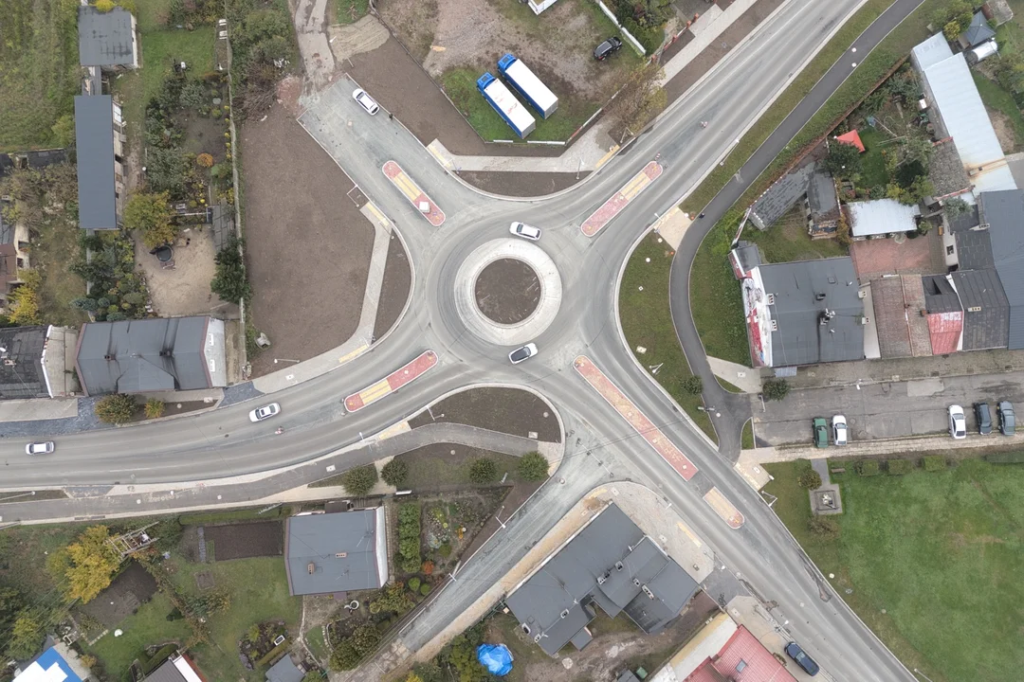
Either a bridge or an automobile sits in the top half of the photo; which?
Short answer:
automobile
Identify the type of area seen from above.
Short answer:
residential area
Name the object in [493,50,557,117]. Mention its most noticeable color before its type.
white truck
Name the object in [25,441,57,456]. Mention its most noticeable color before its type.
white car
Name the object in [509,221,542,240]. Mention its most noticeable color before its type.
white car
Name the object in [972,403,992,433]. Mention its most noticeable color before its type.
gray car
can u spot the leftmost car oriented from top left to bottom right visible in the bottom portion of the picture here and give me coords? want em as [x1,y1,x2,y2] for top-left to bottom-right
[786,641,818,675]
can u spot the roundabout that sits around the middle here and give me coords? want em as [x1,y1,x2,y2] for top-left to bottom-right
[453,236,563,346]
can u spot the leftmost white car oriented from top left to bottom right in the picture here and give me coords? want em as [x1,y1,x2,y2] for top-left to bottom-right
[351,87,382,117]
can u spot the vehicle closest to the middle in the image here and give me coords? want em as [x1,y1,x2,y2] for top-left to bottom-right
[508,343,539,364]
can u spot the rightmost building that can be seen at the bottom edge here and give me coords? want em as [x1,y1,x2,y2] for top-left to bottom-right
[635,604,798,682]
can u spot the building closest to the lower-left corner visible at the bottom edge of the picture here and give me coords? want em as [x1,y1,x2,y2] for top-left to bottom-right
[8,628,99,682]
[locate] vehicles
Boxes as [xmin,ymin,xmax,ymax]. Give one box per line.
[249,402,282,422]
[786,641,818,675]
[972,403,992,433]
[25,441,57,456]
[493,50,557,117]
[508,343,539,364]
[996,401,1016,435]
[509,221,542,240]
[811,417,828,448]
[472,68,535,137]
[831,415,849,445]
[947,405,966,438]
[351,87,382,117]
